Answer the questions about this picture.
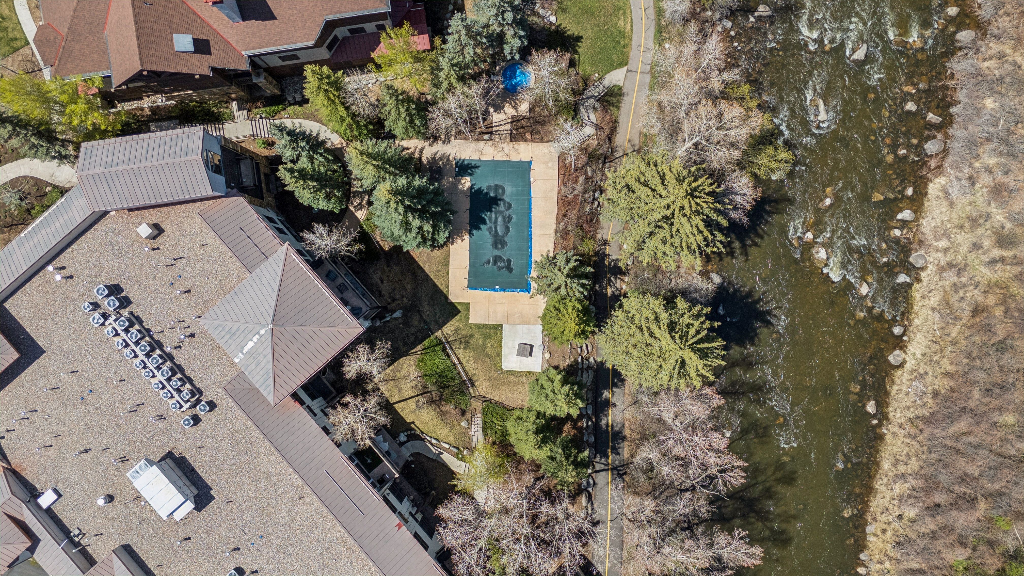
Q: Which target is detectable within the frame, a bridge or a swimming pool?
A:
swimming pool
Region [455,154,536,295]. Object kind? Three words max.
swimming pool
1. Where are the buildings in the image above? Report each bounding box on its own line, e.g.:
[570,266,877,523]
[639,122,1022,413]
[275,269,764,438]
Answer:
[33,0,429,97]
[0,125,470,576]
